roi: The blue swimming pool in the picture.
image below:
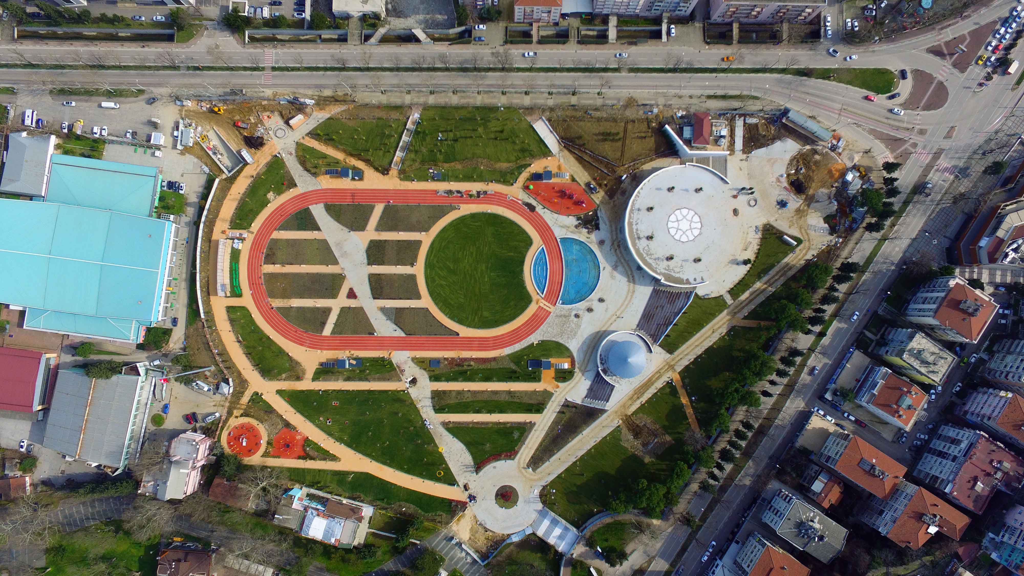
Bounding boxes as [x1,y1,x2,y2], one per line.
[530,236,601,307]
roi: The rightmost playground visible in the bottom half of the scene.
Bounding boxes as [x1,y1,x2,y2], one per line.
[271,425,307,459]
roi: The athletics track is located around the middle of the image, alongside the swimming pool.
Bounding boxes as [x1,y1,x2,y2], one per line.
[246,188,564,352]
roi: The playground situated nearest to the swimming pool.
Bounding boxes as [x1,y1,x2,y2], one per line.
[524,182,597,215]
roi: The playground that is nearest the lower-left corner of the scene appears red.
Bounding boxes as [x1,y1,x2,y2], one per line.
[226,422,262,458]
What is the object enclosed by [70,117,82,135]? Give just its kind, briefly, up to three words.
vehicle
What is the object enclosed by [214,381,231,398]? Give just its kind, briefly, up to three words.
gazebo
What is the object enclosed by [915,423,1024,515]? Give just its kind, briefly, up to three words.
building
